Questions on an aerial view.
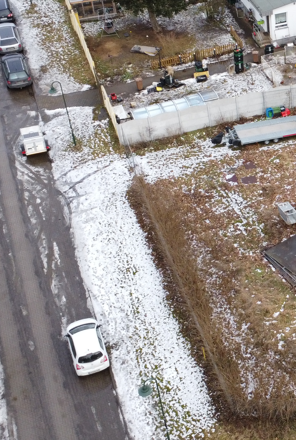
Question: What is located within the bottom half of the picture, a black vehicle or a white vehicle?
white vehicle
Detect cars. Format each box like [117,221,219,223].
[0,0,16,21]
[0,50,34,90]
[60,312,110,376]
[0,20,24,55]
